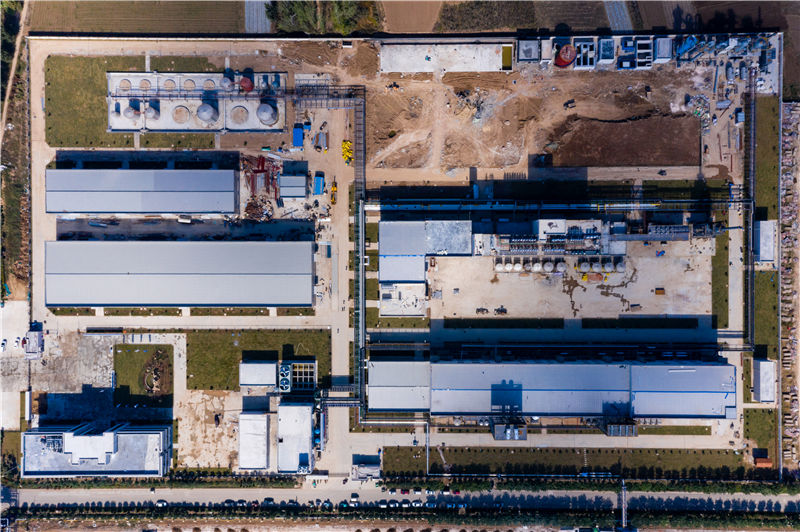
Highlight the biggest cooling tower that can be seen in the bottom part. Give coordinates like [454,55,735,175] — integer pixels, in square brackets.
[279,363,292,391]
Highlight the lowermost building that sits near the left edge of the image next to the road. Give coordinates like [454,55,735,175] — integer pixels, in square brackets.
[21,416,172,477]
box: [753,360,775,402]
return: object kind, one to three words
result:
shed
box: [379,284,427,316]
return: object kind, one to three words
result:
building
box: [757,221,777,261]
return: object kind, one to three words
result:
shed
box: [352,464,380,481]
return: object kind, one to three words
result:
building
